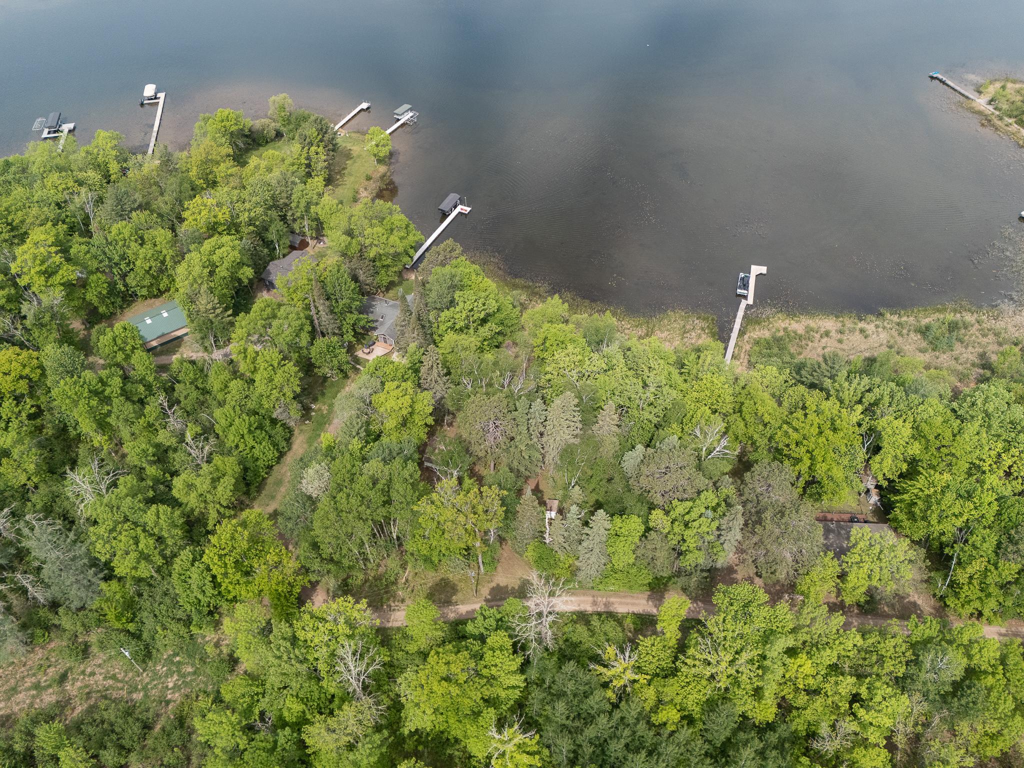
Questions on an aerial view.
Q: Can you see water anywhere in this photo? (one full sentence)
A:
Yes, there's water in this view.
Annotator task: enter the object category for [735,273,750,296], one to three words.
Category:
boat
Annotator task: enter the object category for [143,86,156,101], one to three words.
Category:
boat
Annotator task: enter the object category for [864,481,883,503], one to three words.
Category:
shed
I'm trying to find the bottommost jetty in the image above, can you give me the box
[727,264,767,361]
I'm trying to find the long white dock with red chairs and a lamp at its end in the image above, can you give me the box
[406,204,472,268]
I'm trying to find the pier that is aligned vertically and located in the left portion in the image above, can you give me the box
[144,92,166,143]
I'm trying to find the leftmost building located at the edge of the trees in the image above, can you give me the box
[129,301,190,352]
